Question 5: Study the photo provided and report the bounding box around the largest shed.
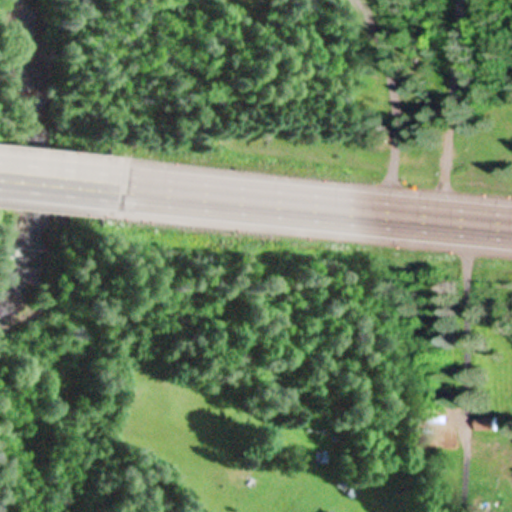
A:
[472,417,494,434]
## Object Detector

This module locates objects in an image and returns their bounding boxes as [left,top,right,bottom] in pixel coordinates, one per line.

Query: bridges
[0,144,130,222]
